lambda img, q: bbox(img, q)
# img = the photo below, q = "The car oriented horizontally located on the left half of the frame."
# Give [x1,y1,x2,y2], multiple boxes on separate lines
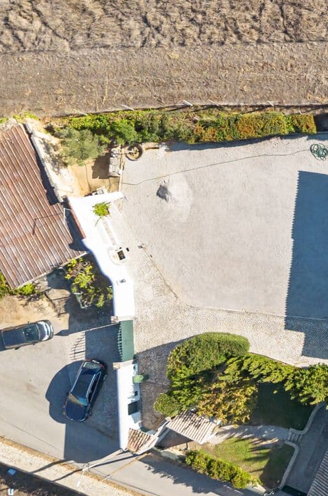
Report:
[0,319,59,349]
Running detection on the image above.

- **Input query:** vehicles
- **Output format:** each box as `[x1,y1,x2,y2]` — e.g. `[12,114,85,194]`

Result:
[0,319,59,349]
[66,360,111,423]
